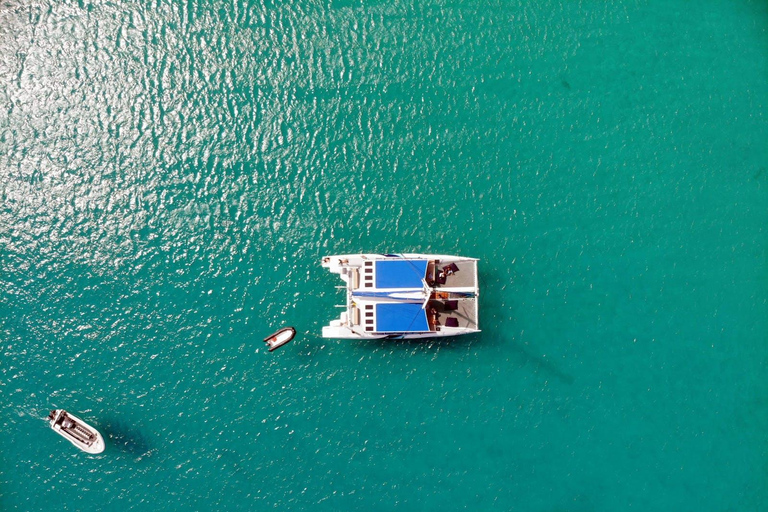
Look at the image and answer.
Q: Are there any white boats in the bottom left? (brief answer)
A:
Yes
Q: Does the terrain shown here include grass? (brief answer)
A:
No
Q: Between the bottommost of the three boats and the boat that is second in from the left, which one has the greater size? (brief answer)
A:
the bottommost of the three boats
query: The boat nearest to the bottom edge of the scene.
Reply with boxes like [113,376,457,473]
[45,407,104,455]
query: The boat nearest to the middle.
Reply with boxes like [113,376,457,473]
[322,253,485,340]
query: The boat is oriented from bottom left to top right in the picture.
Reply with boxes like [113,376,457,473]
[263,325,296,352]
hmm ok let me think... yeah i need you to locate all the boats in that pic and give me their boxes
[263,325,296,352]
[45,407,104,455]
[322,253,485,340]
